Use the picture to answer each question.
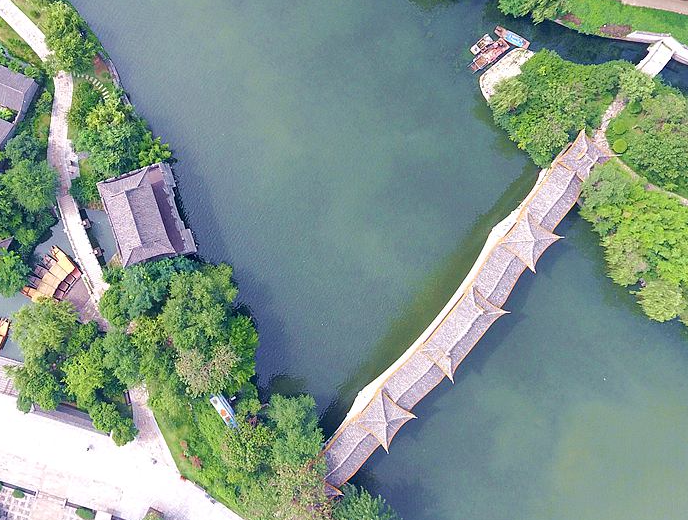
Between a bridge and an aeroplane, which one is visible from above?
bridge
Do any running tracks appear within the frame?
No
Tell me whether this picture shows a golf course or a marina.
marina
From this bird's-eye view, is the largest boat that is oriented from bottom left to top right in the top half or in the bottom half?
top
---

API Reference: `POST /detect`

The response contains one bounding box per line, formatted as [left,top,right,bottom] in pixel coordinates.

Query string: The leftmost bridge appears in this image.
[57,193,110,299]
